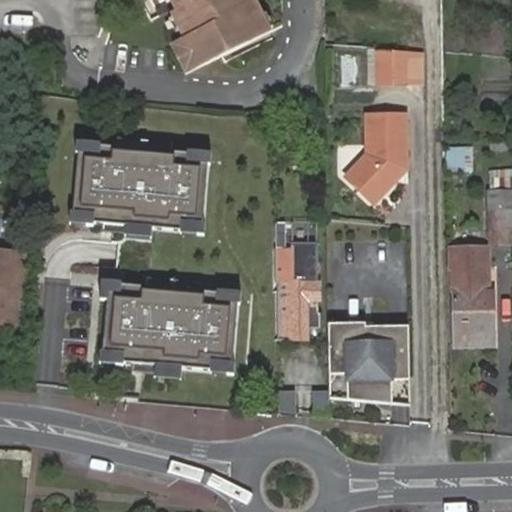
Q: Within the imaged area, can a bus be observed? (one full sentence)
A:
Yes, you can see a bus in this photo.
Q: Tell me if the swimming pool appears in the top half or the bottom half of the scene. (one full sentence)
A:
It is in the top half that the swimming pool appears.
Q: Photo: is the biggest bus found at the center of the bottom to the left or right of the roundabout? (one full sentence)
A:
Compared with the roundabout, the biggest bus found at the center of the bottom is located further to the left.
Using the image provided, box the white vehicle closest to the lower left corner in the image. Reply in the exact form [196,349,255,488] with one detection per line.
[90,460,115,472]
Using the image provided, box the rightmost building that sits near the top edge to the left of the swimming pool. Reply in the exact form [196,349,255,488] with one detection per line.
[157,0,282,76]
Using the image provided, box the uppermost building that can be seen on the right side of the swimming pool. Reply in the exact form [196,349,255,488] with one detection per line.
[376,50,424,87]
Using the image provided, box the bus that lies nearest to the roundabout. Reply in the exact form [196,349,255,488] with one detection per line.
[168,460,255,506]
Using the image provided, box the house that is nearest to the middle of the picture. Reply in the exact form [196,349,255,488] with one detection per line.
[276,222,322,342]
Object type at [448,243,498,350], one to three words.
house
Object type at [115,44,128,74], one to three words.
vehicle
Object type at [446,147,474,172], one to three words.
shed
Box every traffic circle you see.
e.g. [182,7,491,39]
[261,458,319,512]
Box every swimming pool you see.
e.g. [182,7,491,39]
[340,54,360,88]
